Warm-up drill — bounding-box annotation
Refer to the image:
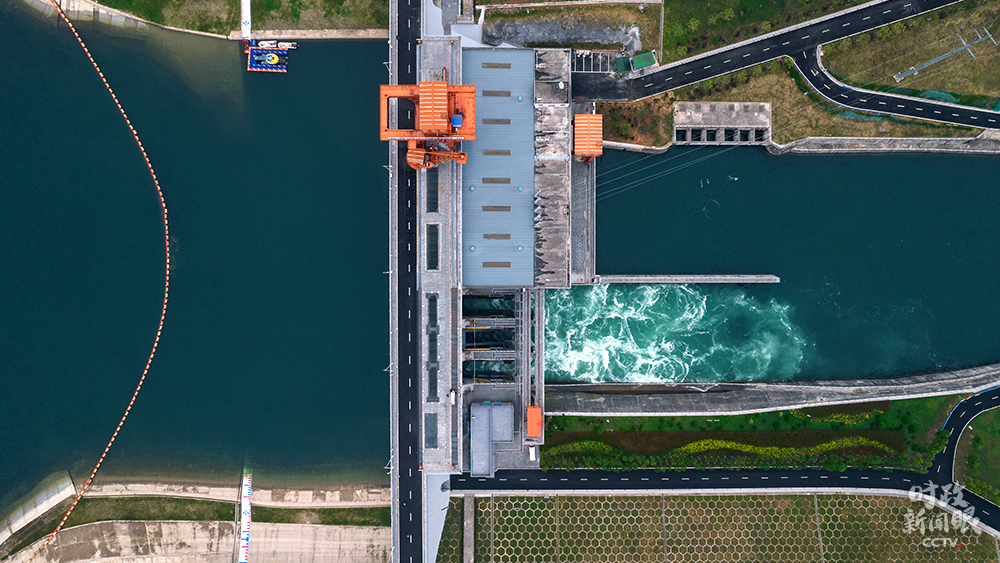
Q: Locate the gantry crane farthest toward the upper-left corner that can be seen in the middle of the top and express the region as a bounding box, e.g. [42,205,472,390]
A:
[380,65,477,169]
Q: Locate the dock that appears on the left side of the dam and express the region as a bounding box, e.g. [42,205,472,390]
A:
[247,48,289,72]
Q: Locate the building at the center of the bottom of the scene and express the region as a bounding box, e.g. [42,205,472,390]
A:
[471,402,514,476]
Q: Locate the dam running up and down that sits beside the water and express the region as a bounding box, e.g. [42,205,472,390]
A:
[390,0,493,563]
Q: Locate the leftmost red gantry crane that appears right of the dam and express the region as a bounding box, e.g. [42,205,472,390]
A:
[523,400,545,437]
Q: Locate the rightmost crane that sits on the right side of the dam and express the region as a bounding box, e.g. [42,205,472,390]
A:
[573,114,603,168]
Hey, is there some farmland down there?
No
